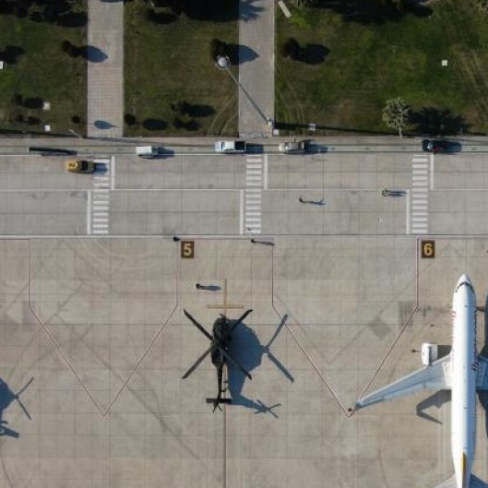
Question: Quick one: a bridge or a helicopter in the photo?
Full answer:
Looking from above, you can make out a helicopter.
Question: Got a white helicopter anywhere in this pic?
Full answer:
No, there is no white helicopter in the image.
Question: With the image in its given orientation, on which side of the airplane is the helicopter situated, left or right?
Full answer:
To the left of the airplane is where the helicopter appears.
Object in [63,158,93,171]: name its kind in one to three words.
vehicle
